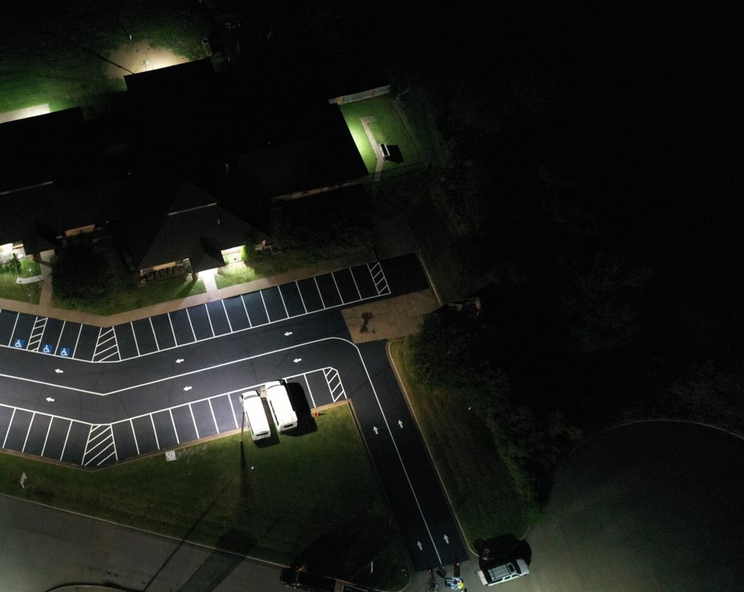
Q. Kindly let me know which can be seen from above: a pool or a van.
van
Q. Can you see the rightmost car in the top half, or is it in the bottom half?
bottom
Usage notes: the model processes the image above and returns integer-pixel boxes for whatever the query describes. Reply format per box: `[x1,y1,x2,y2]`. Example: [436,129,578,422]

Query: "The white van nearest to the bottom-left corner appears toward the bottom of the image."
[244,394,273,440]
